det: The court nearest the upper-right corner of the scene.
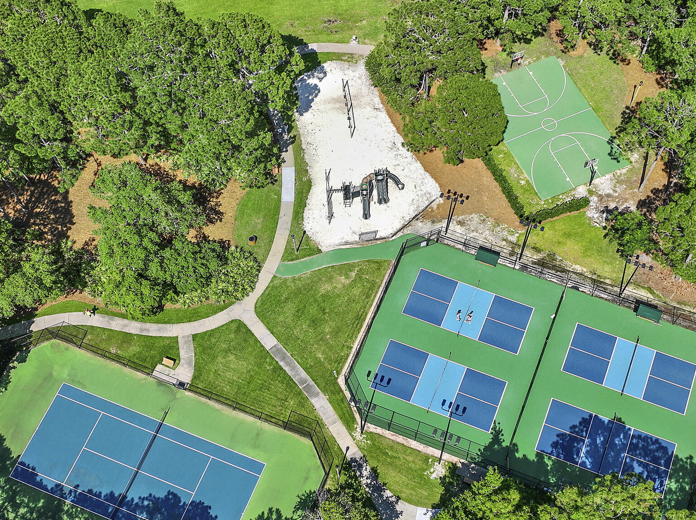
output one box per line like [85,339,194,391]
[471,55,628,201]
